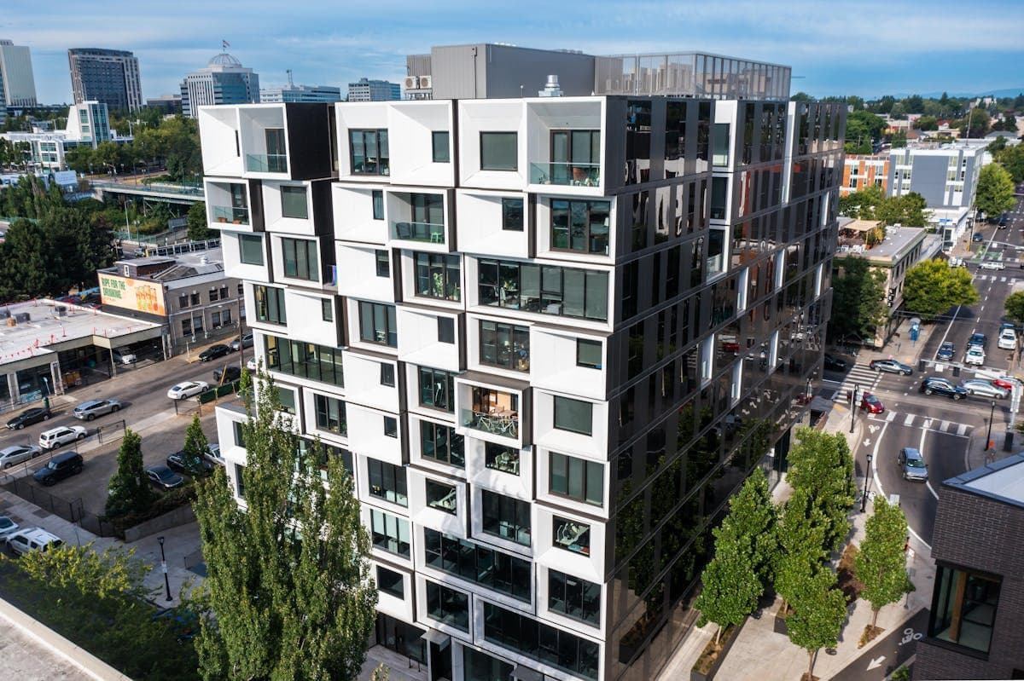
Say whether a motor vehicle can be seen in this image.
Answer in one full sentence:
Yes, I can see a motor vehicle in this picture.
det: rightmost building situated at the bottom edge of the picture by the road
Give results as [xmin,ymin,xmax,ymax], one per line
[916,450,1024,681]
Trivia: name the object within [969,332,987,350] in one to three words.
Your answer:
vehicle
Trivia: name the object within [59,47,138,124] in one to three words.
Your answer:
building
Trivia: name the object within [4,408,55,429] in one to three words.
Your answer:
car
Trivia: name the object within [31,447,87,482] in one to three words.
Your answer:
car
